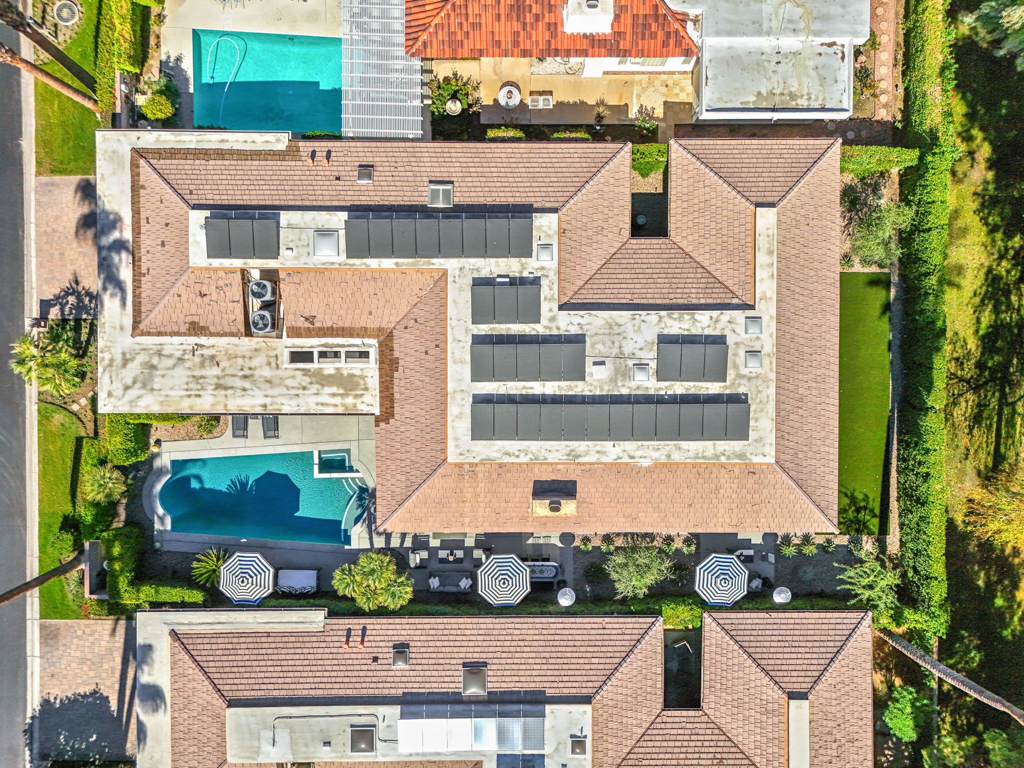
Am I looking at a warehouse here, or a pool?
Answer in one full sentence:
The image shows a pool.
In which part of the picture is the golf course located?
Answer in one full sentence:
The golf course appears toward the right of the photo.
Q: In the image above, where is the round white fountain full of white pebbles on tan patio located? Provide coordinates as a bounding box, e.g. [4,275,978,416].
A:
[498,83,520,107]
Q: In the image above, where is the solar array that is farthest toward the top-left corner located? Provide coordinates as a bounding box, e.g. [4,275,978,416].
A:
[204,219,280,259]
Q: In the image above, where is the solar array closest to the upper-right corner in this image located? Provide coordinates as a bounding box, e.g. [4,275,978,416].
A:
[656,344,729,382]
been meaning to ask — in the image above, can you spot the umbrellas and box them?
[479,552,529,603]
[223,550,275,602]
[693,551,745,604]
